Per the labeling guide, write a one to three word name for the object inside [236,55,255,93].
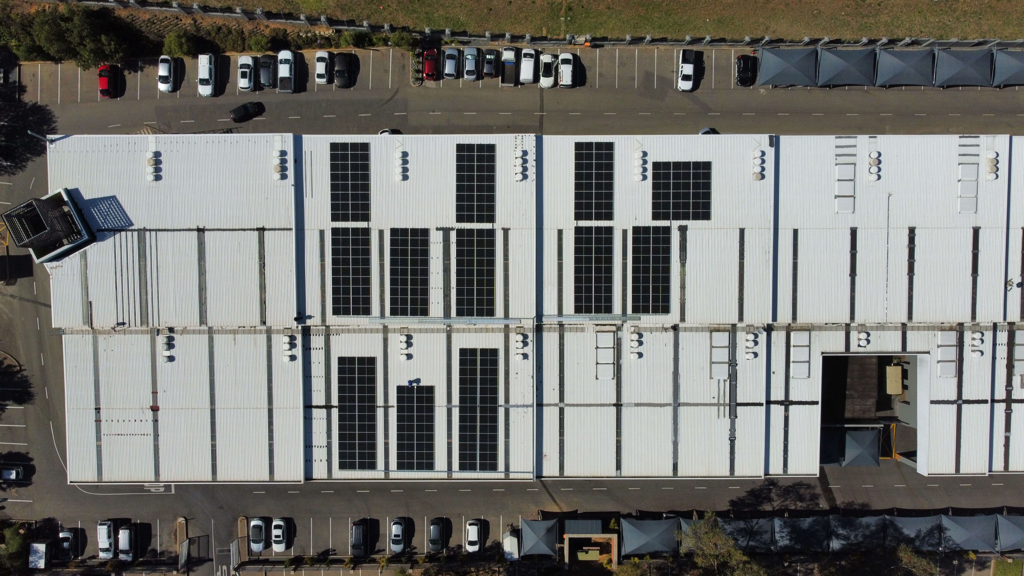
car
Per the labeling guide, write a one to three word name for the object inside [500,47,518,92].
vehicle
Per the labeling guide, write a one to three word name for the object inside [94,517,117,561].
truck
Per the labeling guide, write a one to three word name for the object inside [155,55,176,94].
car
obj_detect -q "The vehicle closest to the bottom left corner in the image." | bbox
[57,526,78,562]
